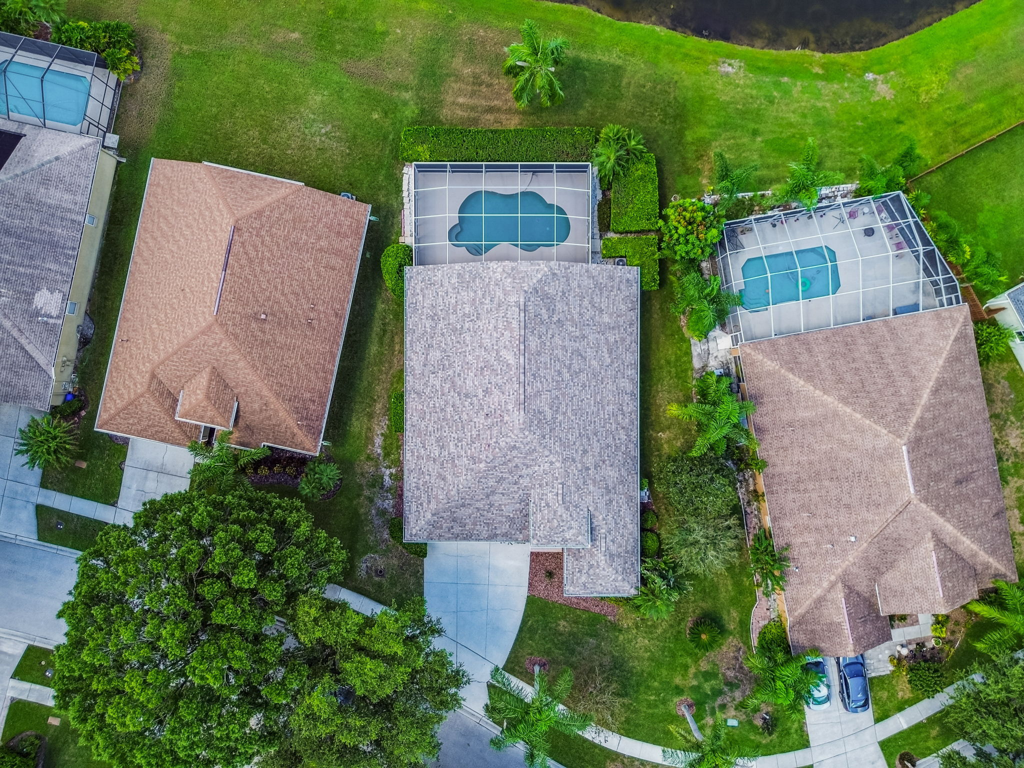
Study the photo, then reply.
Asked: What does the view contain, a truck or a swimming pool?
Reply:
swimming pool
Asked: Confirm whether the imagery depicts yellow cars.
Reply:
No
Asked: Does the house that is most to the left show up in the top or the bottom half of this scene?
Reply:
top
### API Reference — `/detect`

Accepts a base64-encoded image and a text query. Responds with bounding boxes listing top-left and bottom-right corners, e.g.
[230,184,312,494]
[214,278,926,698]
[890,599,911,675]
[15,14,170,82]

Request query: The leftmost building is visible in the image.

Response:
[0,117,119,406]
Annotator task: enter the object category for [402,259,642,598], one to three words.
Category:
house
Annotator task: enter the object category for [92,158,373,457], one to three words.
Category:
house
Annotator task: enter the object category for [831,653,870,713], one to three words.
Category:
car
